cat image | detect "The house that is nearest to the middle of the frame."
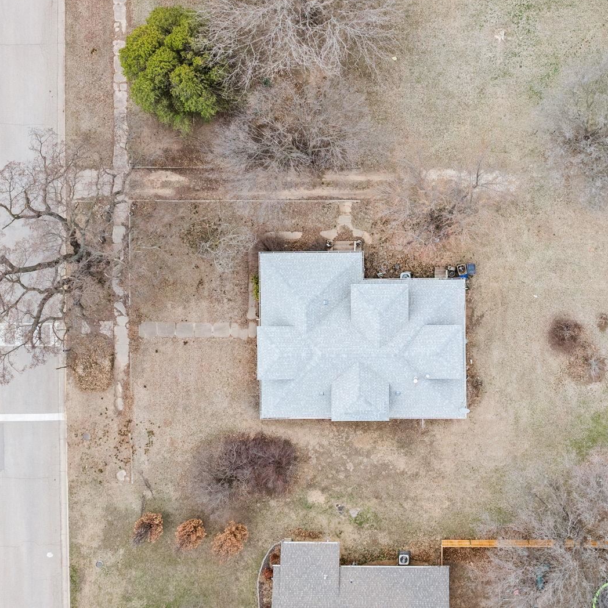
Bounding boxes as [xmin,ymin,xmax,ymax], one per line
[256,252,470,425]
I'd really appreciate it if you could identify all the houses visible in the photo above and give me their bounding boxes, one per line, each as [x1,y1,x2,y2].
[256,252,470,425]
[270,531,449,608]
